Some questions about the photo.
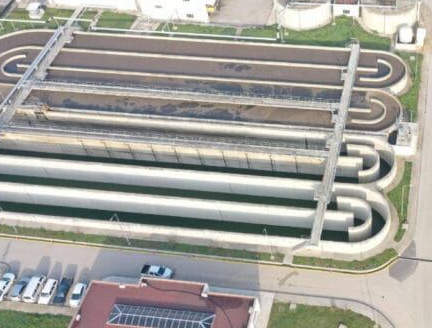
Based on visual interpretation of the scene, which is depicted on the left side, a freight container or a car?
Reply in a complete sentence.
It is a car that can be seen on the left side.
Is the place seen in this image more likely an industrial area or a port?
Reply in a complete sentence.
This looks like an industrial area.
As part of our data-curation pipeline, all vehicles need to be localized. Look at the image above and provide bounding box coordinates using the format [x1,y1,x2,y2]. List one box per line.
[10,276,32,301]
[38,276,61,305]
[140,264,175,279]
[21,274,49,302]
[0,270,16,300]
[53,275,78,306]
[69,282,89,307]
